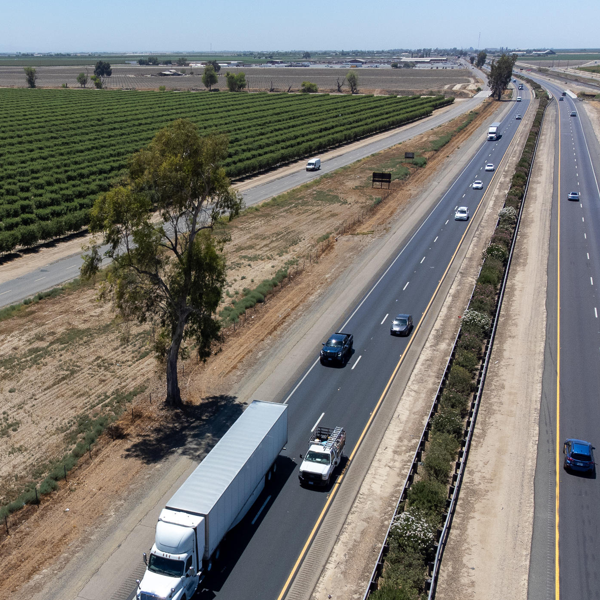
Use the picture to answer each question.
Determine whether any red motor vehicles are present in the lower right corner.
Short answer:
No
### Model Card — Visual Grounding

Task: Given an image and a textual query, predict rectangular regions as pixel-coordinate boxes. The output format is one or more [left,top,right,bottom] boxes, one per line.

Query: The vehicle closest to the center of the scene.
[320,333,357,365]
